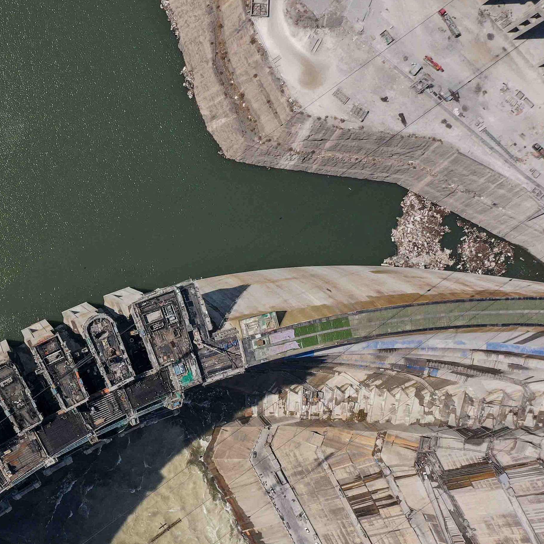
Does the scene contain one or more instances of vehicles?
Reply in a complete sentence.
Yes, a vehicle can be made out from above.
